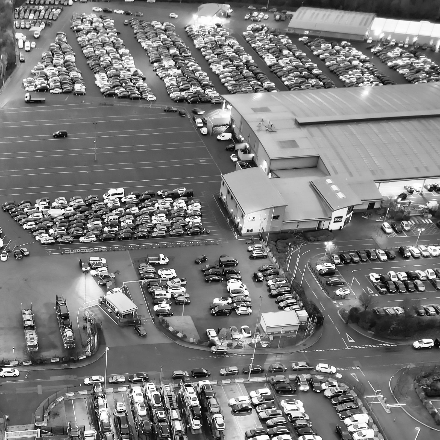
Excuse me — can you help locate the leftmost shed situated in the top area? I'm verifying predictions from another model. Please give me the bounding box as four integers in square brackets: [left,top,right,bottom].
[196,3,236,24]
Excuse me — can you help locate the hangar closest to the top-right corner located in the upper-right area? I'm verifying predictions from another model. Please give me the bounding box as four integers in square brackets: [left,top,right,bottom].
[289,2,371,40]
